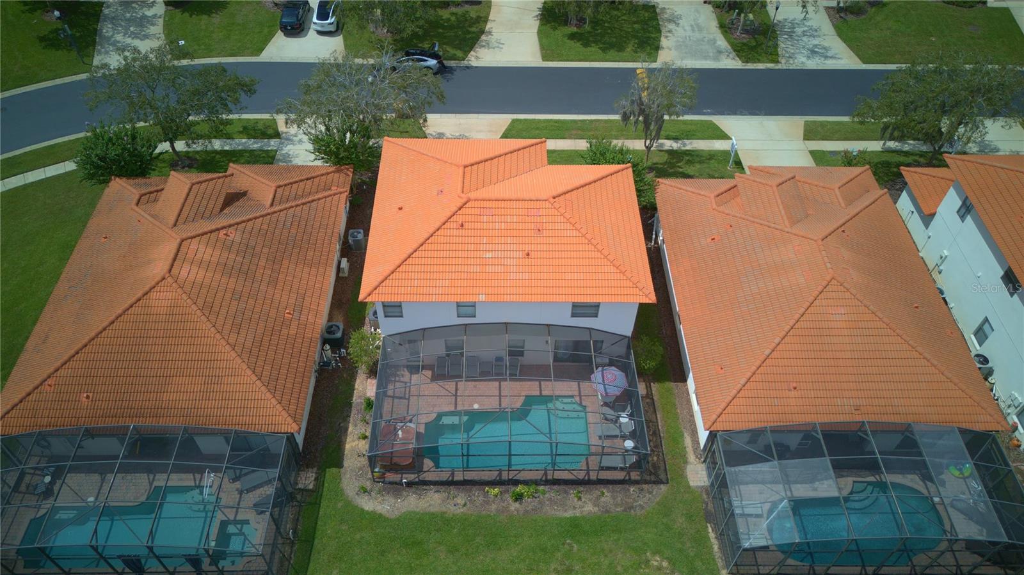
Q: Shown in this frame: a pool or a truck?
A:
pool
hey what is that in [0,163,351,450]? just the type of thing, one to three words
house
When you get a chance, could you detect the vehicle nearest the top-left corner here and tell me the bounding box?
[276,0,312,27]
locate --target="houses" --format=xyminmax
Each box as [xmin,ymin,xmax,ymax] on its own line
[0,163,351,450]
[653,165,1010,454]
[358,136,657,365]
